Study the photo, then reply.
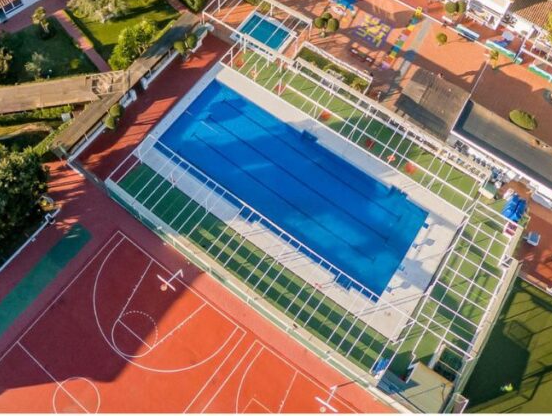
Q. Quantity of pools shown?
2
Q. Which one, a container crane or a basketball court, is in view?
basketball court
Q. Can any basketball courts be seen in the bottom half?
Yes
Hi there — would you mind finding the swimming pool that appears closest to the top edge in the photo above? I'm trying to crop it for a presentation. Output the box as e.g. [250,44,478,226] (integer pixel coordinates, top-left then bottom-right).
[231,10,298,59]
